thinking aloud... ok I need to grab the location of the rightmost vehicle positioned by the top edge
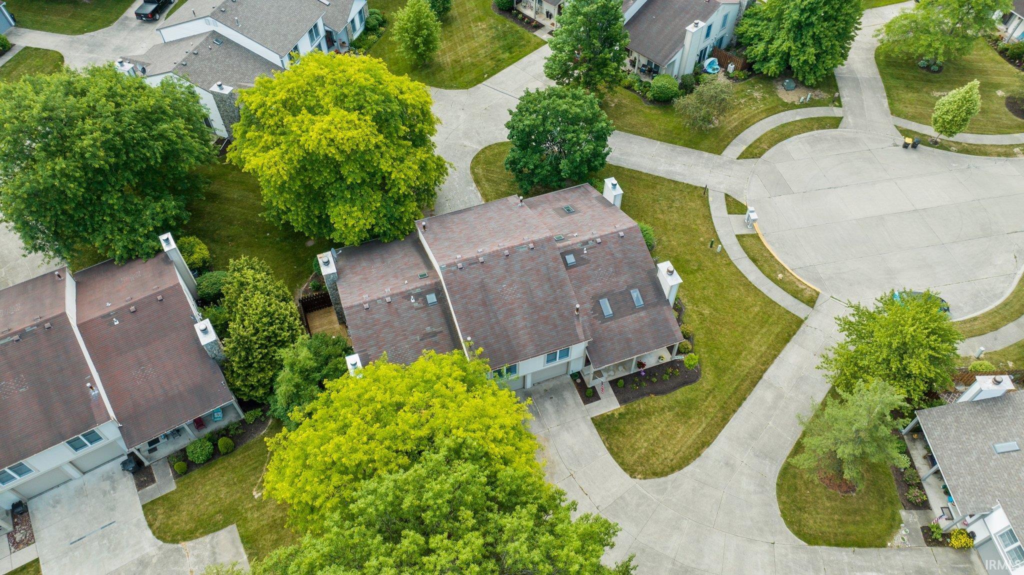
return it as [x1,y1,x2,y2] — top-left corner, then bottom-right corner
[133,0,174,23]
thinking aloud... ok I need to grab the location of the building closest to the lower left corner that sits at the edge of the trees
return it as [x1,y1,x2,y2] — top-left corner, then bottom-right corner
[0,233,242,539]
